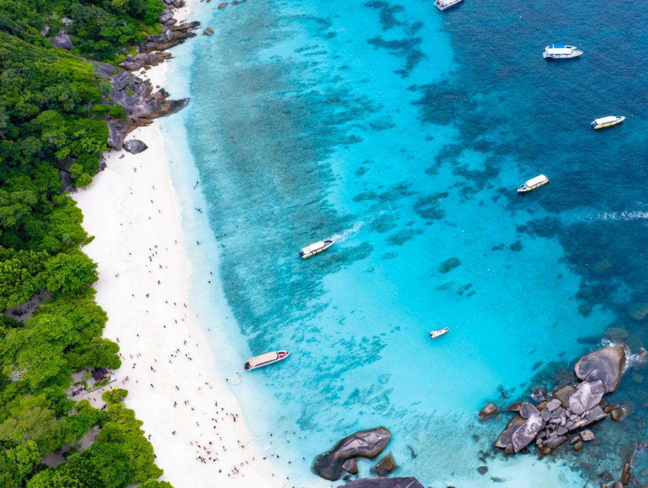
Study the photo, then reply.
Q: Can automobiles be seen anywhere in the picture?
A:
No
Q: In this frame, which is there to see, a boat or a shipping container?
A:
boat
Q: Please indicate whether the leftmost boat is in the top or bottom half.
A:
bottom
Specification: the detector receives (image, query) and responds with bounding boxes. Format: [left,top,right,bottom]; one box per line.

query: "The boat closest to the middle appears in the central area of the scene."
[297,240,333,261]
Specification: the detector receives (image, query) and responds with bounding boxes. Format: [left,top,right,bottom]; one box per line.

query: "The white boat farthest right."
[587,114,625,130]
